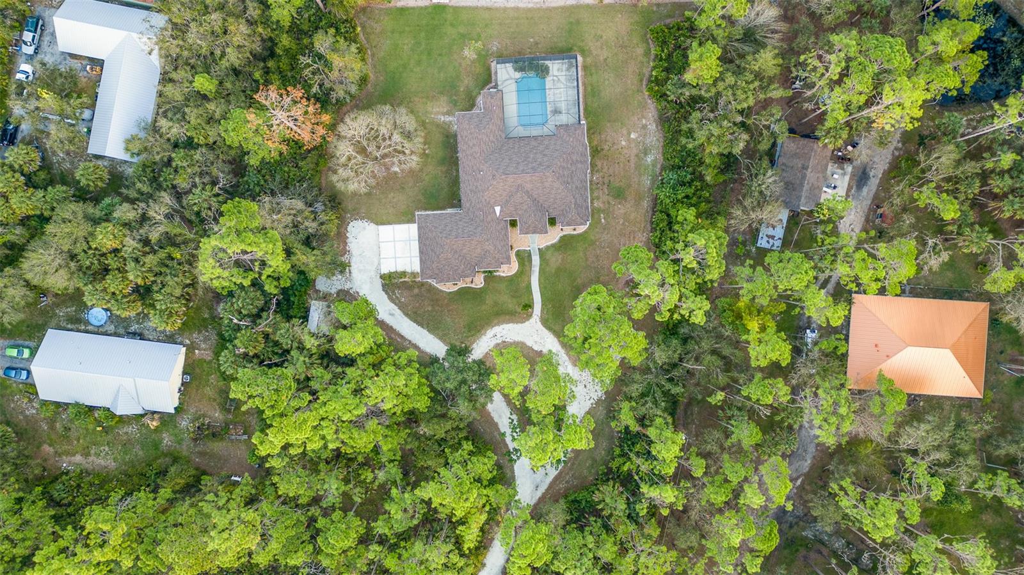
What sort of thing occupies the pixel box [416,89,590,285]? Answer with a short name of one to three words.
house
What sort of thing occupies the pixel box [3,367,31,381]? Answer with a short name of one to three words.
car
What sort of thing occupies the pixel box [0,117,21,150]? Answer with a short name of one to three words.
truck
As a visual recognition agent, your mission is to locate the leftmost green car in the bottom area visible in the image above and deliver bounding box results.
[5,346,32,359]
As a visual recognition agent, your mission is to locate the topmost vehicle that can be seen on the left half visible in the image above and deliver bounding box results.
[19,16,42,55]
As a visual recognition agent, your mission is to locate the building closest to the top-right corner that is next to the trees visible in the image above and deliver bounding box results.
[769,137,832,206]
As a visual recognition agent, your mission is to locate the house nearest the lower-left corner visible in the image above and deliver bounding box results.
[31,329,189,414]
